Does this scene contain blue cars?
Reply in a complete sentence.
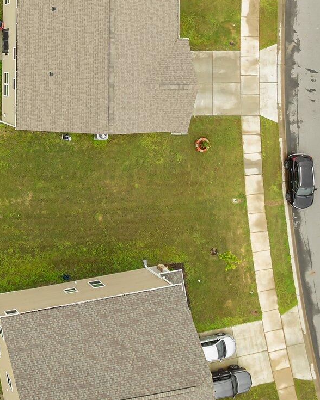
No, there isn't any blue car down there.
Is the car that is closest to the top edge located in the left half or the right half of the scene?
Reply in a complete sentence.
The car that is closest to the top edge appears in the right half of the scene.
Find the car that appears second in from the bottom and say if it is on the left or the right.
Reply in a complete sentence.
It is on the right.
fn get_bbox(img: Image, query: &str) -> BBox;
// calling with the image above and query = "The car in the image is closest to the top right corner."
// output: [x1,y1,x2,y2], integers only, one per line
[286,154,320,209]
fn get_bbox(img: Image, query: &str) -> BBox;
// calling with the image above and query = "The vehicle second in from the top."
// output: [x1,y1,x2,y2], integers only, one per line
[204,334,237,364]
